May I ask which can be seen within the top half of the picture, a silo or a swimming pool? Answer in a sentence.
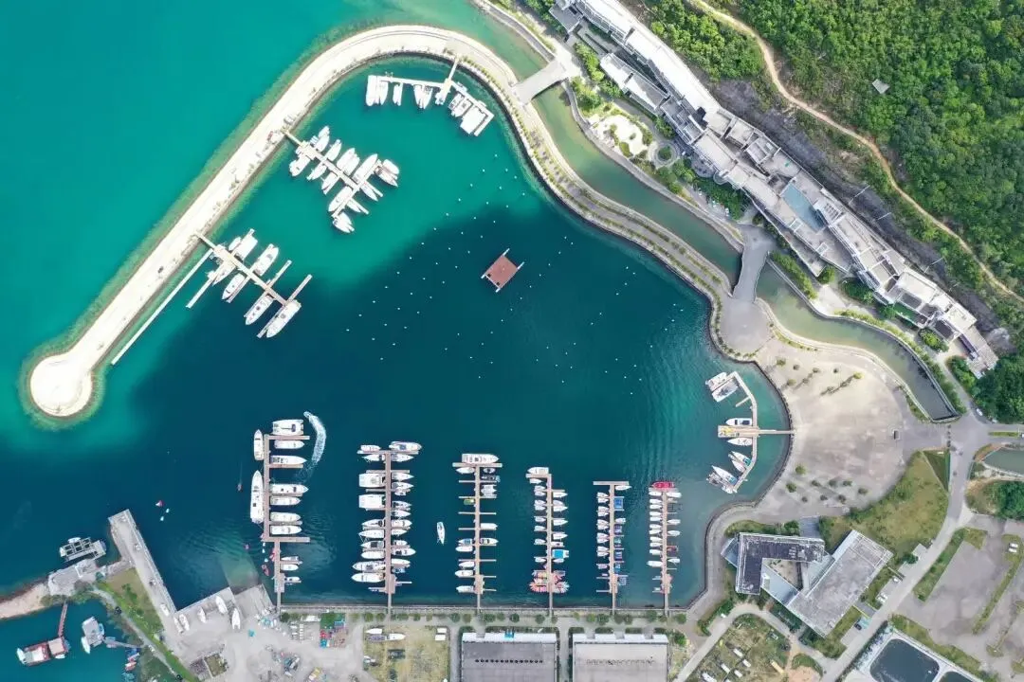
Visible within the top half of the picture is a swimming pool.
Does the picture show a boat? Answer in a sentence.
Yes, this view includes a boat.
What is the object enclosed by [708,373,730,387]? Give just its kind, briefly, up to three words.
boat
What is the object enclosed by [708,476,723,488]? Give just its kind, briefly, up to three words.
boat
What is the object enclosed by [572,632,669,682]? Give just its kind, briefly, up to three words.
building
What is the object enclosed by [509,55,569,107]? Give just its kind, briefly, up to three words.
bridge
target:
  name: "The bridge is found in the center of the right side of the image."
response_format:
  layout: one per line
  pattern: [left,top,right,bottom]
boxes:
[725,241,776,307]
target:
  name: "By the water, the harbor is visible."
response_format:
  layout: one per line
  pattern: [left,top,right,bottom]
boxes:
[126,65,794,612]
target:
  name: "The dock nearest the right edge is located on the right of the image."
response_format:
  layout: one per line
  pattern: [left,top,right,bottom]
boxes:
[709,371,790,493]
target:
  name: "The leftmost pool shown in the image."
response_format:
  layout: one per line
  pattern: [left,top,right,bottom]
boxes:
[780,183,826,235]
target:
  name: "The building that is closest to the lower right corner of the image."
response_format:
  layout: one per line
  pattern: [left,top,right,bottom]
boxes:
[785,526,894,639]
